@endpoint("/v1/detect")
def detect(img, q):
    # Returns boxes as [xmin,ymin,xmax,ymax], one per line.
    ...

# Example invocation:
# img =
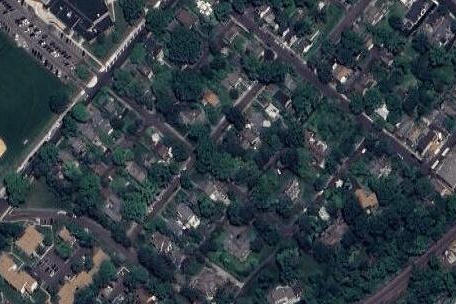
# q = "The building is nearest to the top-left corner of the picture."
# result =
[51,0,113,45]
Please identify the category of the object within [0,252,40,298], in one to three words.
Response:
building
